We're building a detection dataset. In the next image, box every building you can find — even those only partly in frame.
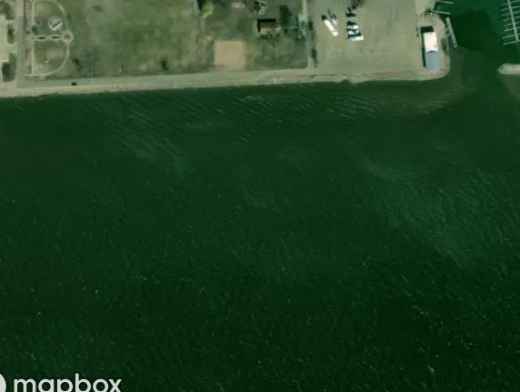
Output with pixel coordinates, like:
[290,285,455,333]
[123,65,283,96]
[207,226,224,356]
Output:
[423,32,441,72]
[258,20,277,34]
